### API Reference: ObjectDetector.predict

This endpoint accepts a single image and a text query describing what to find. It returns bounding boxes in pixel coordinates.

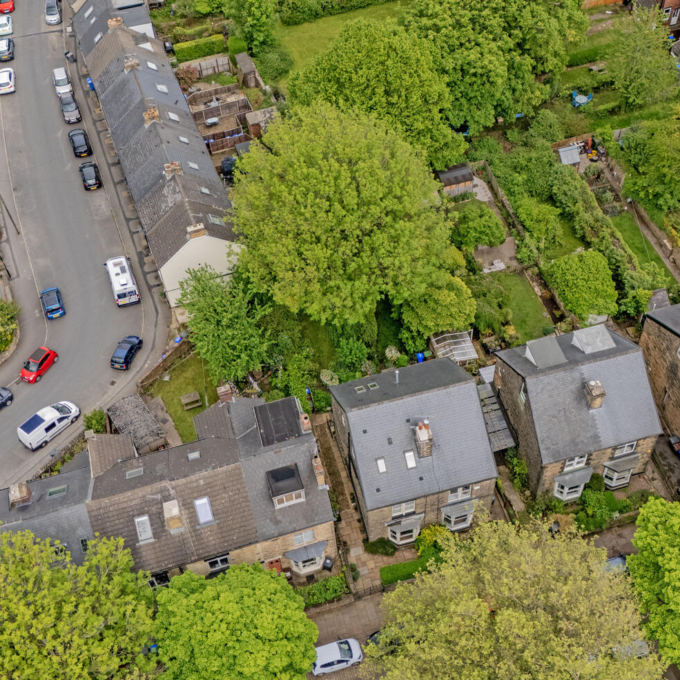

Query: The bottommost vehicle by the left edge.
[15,402,81,451]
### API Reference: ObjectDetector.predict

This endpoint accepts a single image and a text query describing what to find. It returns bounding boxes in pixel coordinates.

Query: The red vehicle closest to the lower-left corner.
[17,346,61,384]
